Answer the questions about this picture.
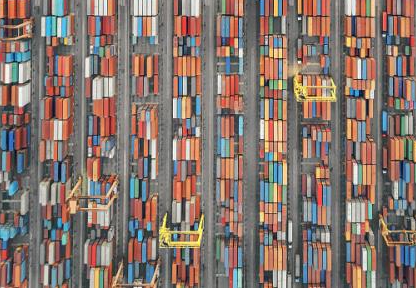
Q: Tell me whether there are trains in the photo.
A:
No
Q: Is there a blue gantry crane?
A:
No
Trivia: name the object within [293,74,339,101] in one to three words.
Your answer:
container crane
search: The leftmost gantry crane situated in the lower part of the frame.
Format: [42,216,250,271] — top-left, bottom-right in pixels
[68,177,121,212]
